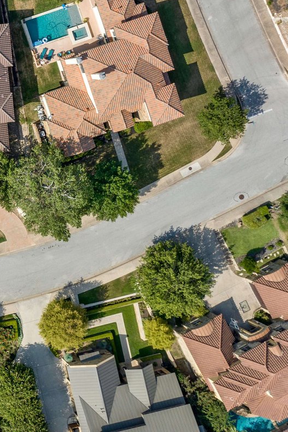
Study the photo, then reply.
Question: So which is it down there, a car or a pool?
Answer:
pool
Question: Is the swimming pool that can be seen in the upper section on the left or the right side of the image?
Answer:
left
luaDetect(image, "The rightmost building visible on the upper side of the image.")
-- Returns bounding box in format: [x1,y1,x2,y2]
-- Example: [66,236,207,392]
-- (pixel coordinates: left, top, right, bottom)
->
[37,0,187,154]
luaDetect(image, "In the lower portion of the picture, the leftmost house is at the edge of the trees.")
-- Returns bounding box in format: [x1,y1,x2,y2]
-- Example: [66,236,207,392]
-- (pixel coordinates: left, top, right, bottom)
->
[59,349,202,432]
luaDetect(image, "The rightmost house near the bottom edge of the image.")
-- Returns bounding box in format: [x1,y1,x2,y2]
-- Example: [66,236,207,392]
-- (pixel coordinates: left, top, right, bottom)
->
[171,309,288,432]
